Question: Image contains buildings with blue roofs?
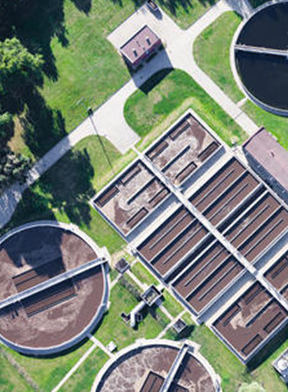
No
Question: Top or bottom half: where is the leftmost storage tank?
bottom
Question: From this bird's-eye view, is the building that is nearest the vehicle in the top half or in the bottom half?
top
